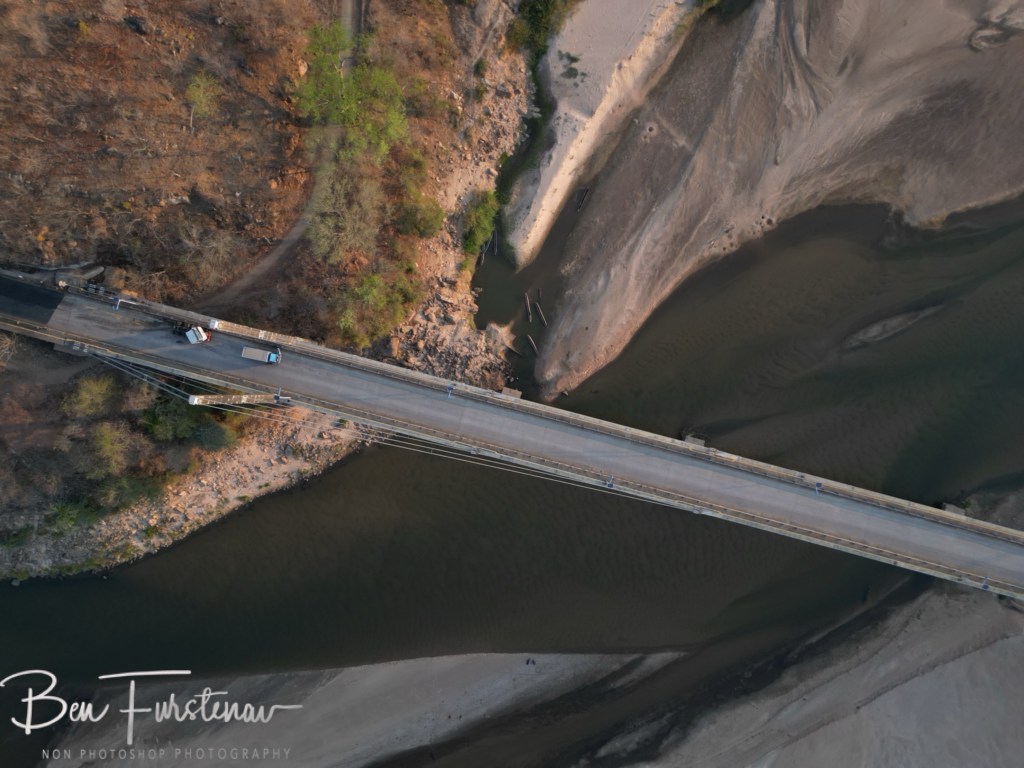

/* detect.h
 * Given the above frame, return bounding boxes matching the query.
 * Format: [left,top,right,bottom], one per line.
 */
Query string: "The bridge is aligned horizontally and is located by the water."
[49,281,1024,599]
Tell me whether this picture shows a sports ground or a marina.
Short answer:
marina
